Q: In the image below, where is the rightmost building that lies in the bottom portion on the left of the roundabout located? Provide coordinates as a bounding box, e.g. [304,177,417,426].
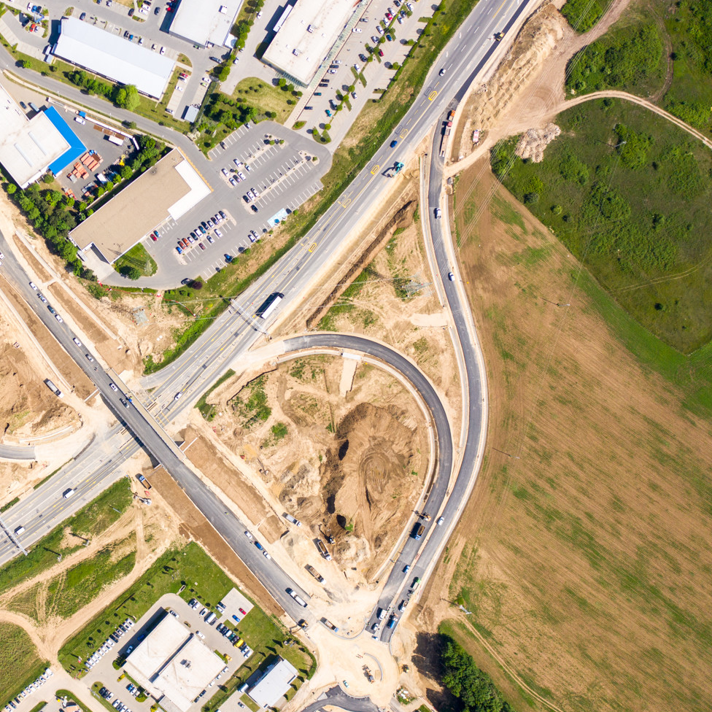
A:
[248,656,297,706]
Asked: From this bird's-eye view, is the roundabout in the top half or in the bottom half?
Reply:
bottom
